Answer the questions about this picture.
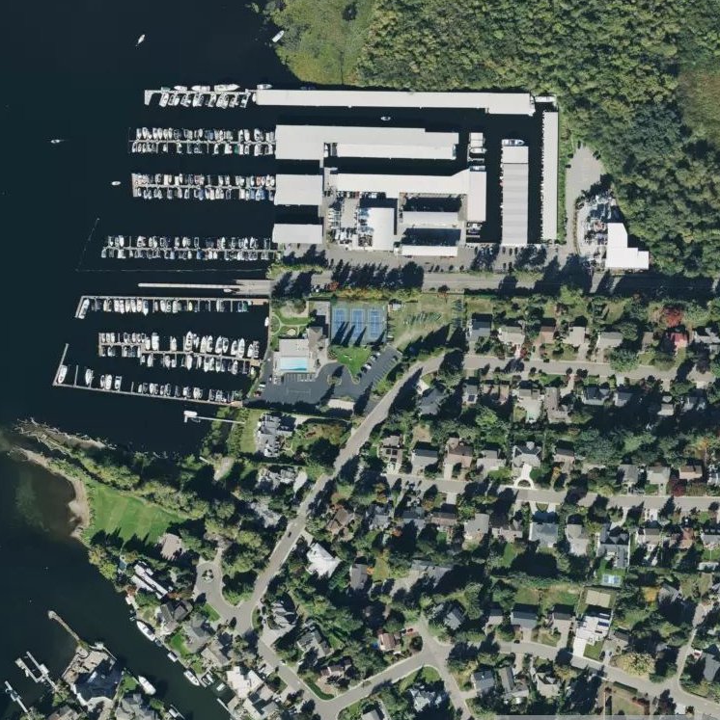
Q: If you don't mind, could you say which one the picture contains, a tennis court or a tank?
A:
tennis court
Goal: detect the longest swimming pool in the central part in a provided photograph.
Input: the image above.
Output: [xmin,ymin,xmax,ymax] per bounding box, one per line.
[280,357,309,371]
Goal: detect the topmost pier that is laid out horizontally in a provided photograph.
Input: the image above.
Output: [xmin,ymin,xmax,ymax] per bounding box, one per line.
[144,89,257,105]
